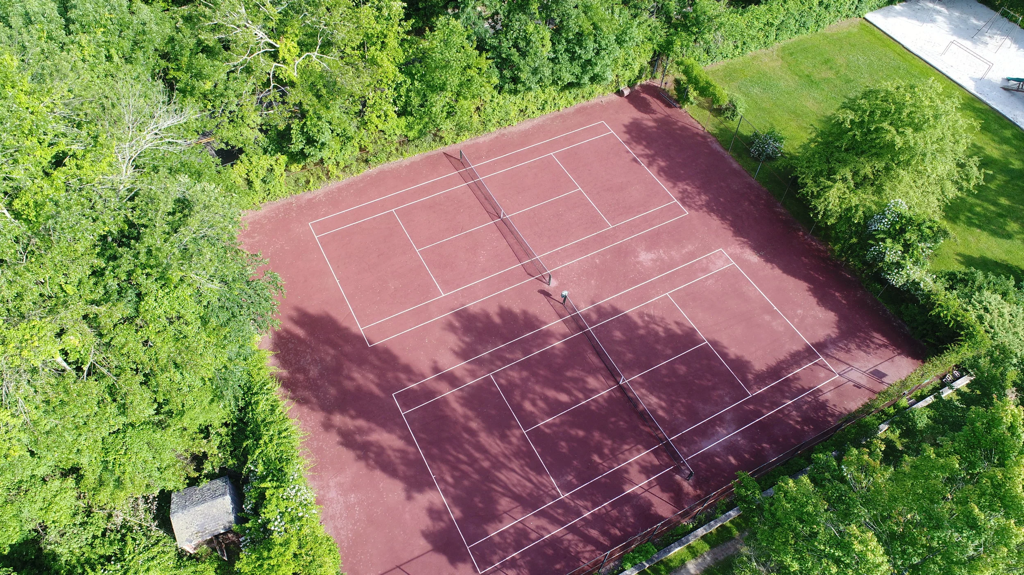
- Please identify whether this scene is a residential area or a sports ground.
sports ground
